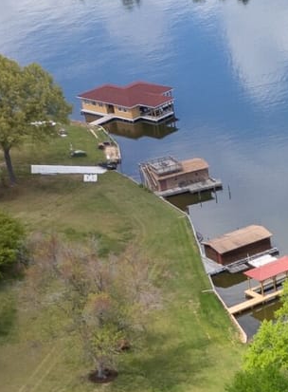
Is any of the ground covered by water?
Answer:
Yes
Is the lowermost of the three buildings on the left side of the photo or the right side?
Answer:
right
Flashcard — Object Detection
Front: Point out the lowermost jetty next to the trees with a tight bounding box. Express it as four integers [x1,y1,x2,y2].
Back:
[225,276,287,313]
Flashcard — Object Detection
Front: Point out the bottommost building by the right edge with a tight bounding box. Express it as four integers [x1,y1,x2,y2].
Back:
[193,226,283,275]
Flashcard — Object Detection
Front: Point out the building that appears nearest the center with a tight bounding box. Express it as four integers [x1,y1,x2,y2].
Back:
[129,154,224,194]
